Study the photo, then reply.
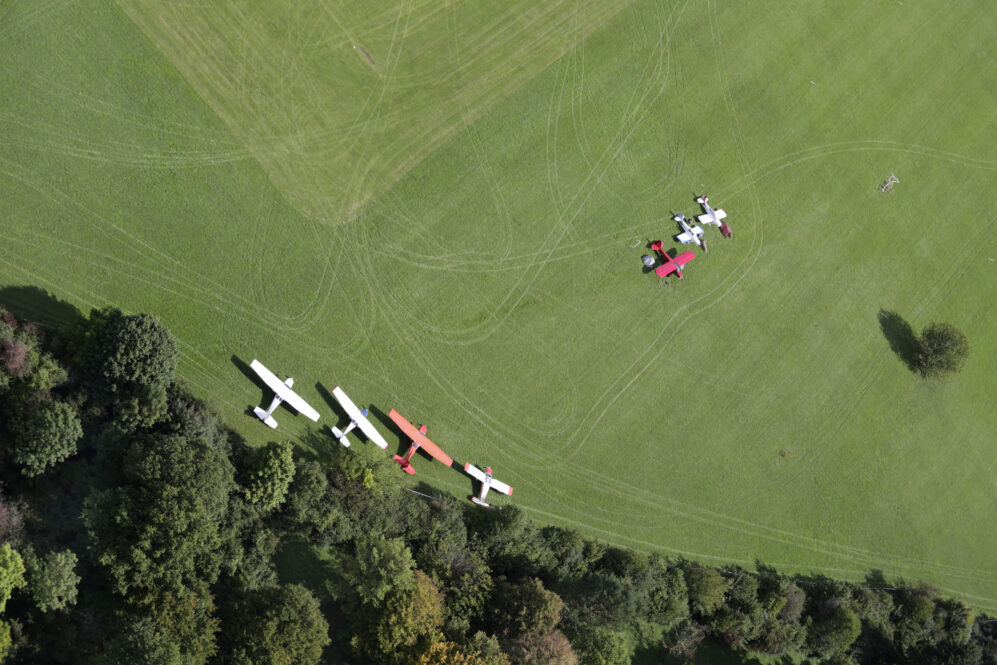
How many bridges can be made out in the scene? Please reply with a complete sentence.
I count no bridges.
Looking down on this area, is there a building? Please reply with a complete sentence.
No, there appears to be no building in this shot.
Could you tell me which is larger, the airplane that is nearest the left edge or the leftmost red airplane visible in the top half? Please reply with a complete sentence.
Compared with the leftmost red airplane visible in the top half, the airplane that is nearest the left edge is the larger one.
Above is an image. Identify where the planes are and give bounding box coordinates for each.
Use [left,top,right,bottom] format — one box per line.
[675,213,706,255]
[697,195,730,241]
[464,463,511,509]
[329,387,389,448]
[389,408,455,471]
[646,241,695,277]
[251,360,321,427]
